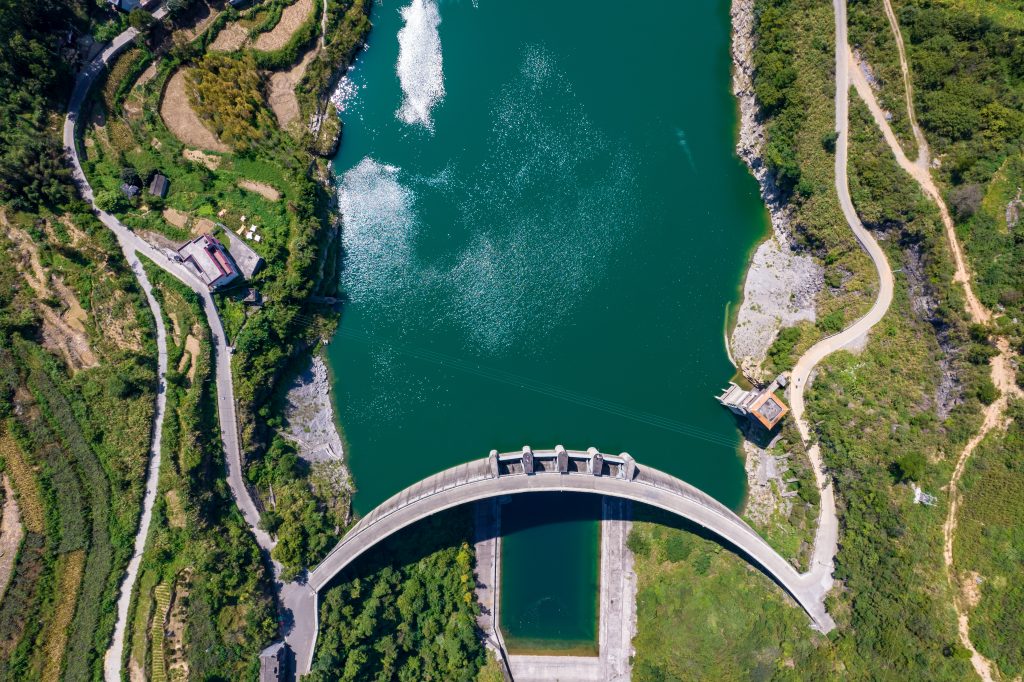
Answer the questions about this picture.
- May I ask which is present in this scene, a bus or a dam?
dam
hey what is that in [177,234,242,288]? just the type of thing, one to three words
house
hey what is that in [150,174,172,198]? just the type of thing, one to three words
shed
